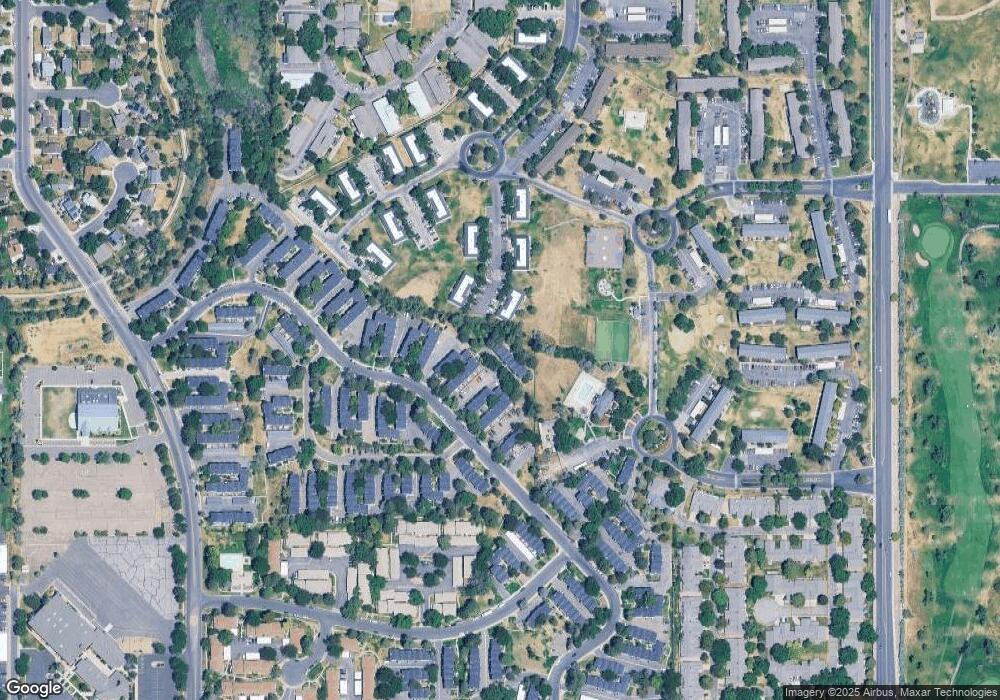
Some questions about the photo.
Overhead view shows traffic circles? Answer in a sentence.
Yes, the frame does contain a traffic circle.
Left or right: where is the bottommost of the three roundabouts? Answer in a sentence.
You can find the bottommost of the three roundabouts on the right side of the picture.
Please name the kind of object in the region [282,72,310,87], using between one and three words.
building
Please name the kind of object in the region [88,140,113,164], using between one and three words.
house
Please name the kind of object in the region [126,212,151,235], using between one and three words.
house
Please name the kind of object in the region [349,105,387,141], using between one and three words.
building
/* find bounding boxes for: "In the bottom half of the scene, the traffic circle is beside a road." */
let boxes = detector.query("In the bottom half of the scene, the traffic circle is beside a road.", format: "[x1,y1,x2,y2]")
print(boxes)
[630,413,679,461]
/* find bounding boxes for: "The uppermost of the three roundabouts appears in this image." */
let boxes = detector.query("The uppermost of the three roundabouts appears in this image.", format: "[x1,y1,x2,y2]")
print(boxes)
[460,133,506,180]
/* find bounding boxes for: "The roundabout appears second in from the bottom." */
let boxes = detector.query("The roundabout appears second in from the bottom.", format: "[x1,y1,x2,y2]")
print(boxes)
[631,207,679,255]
